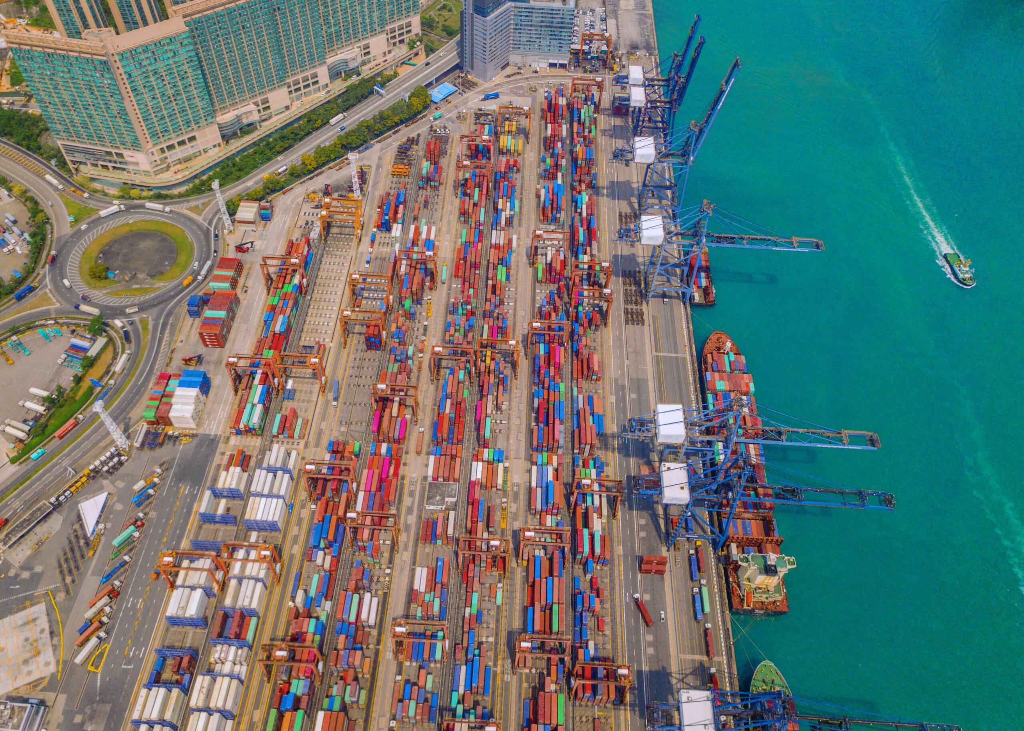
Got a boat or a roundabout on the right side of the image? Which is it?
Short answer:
boat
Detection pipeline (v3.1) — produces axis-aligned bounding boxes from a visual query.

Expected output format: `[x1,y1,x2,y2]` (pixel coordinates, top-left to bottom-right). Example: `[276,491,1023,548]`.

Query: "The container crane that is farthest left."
[155,549,227,596]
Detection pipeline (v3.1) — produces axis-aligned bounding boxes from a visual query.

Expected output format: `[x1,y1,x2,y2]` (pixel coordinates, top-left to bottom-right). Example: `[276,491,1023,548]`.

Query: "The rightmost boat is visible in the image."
[941,253,974,291]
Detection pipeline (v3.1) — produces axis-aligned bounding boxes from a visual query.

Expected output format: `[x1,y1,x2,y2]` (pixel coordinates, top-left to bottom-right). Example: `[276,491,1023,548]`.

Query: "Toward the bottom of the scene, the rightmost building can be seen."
[425,481,458,510]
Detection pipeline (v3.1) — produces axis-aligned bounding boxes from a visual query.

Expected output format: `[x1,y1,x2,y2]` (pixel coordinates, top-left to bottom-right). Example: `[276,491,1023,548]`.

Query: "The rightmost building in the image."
[465,0,577,81]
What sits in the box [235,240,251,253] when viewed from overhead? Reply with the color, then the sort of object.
red vehicle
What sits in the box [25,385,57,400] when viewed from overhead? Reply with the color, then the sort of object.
white vehicle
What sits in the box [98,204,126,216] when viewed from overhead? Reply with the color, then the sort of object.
white vehicle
